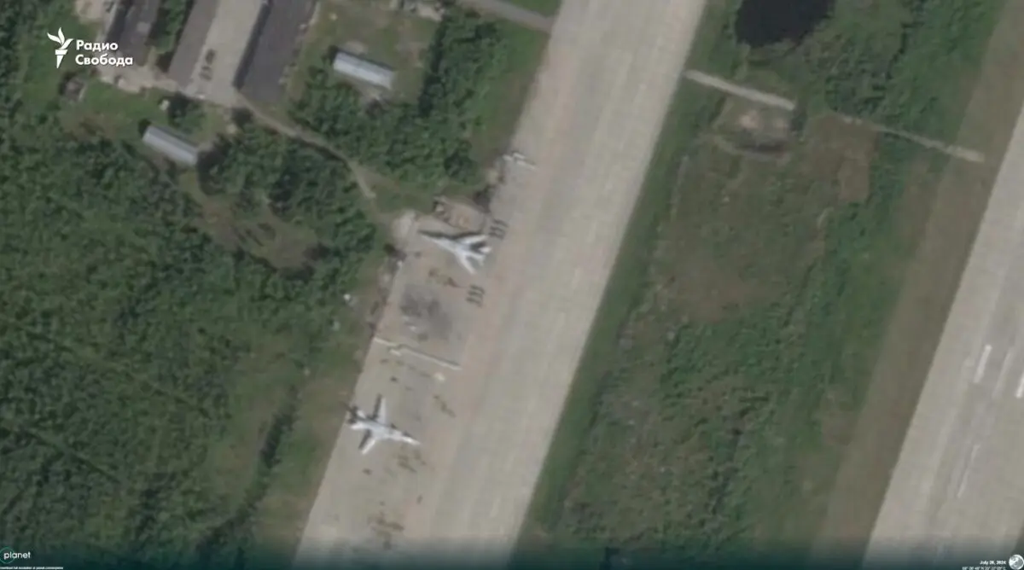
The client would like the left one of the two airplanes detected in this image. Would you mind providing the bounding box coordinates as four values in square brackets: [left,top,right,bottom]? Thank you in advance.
[349,399,420,454]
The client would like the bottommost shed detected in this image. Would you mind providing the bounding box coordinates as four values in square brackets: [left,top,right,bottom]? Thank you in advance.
[141,124,204,165]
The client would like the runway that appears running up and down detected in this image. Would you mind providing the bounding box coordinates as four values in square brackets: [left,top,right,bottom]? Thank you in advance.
[858,106,1024,570]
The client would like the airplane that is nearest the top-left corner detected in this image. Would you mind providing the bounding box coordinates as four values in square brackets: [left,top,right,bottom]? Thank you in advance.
[421,233,492,273]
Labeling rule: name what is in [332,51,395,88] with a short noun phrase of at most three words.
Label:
shed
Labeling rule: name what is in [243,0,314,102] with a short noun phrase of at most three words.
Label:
building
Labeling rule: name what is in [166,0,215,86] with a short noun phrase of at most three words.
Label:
building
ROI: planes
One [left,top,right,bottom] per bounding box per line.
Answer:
[421,233,492,273]
[349,399,420,454]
